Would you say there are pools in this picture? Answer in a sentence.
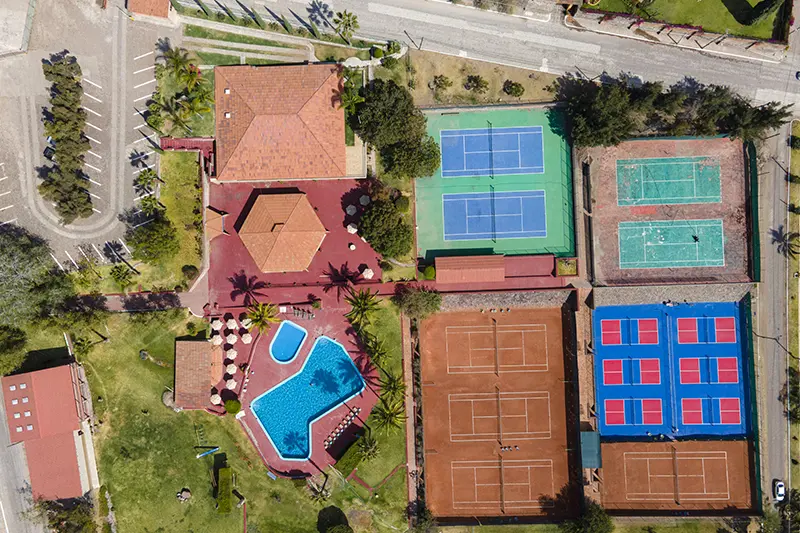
Yes, I can see a pool in this picture.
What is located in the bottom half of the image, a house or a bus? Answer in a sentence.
The feature located in the bottom half of the image is a house.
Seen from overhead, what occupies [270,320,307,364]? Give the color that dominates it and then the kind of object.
blue swimming pool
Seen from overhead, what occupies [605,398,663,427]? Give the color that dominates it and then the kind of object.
red sports court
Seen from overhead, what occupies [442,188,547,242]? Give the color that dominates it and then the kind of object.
blue tennis court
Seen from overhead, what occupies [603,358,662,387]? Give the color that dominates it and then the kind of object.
red sports court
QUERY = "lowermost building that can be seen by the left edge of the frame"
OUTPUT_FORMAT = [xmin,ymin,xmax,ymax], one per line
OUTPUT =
[2,363,105,503]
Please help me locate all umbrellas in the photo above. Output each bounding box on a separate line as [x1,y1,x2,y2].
[227,349,238,359]
[227,318,238,329]
[363,268,373,279]
[227,379,237,389]
[227,334,238,344]
[360,195,370,206]
[242,333,252,344]
[227,363,238,374]
[212,320,223,330]
[211,393,222,403]
[347,205,356,216]
[348,222,357,233]
[212,334,223,345]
